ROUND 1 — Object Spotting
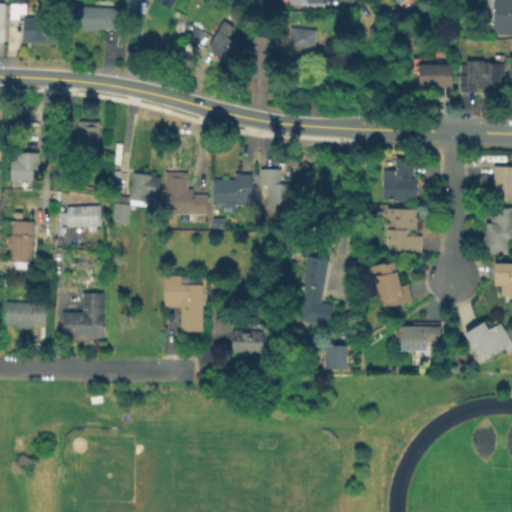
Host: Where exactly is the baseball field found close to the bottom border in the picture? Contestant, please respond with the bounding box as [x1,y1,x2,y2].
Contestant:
[66,434,144,512]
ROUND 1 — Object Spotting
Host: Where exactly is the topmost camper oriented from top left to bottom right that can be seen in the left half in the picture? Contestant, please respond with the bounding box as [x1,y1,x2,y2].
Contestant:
[191,18,206,32]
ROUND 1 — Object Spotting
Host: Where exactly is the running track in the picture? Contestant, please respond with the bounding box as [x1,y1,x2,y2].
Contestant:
[388,395,512,512]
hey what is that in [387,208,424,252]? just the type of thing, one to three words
house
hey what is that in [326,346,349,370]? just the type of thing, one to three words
house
